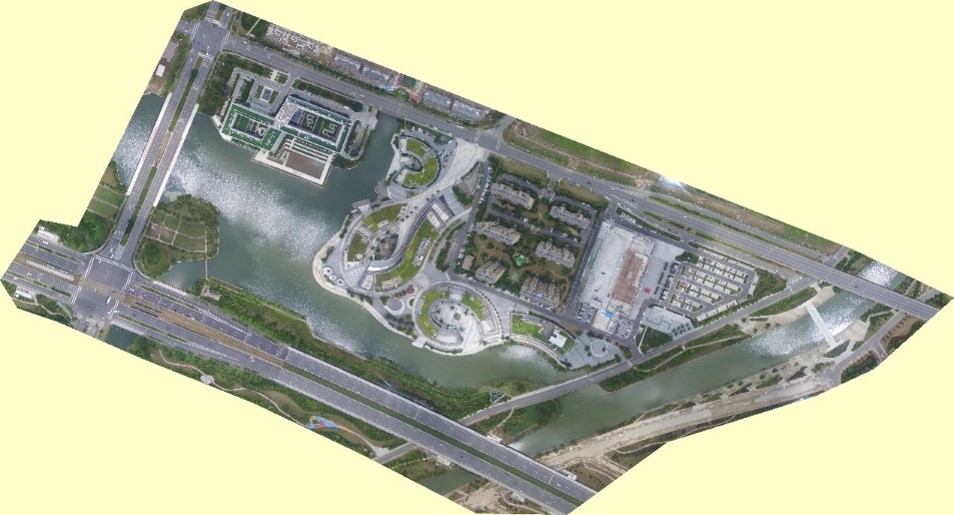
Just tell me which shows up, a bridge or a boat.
bridge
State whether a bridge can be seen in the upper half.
Yes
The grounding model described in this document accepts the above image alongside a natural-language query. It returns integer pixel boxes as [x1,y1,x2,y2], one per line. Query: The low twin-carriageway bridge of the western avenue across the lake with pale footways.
[127,90,198,203]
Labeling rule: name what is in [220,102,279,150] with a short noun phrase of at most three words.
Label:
building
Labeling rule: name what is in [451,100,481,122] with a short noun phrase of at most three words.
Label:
shed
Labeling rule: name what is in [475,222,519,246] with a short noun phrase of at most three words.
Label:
building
